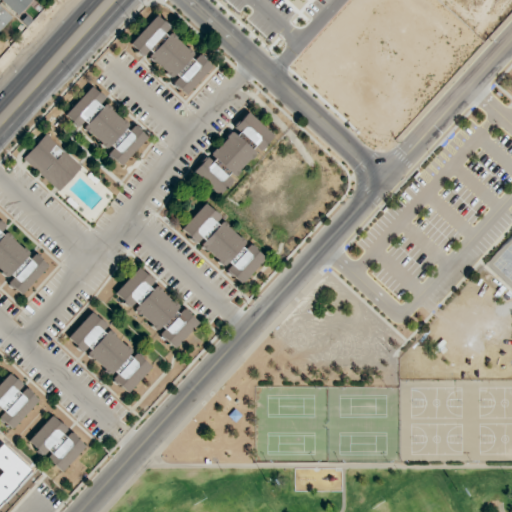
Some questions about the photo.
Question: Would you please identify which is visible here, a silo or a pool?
pool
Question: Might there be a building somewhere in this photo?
Yes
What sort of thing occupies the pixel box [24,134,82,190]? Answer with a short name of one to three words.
building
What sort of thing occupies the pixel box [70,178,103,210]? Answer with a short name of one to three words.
swimming pool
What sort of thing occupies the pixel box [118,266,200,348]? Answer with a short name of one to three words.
building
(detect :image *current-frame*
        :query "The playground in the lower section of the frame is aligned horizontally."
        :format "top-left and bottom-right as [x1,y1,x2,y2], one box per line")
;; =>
[294,468,344,492]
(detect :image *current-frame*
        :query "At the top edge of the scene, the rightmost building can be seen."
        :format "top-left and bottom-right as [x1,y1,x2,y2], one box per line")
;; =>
[132,14,214,96]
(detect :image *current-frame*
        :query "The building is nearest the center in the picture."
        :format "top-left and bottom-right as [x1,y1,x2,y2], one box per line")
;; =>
[182,202,266,284]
